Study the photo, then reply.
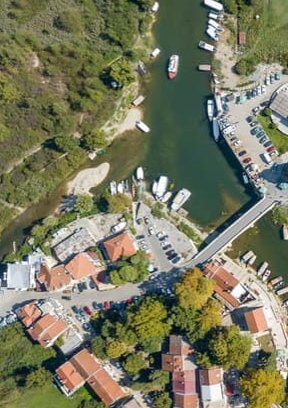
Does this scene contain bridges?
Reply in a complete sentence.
Yes, you can see a bridge in this photo.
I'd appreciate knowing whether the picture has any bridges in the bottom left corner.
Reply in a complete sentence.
No, I can find no bridge in the bottom left corner.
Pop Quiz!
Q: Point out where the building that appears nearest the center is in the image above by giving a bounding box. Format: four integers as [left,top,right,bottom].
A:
[105,231,140,261]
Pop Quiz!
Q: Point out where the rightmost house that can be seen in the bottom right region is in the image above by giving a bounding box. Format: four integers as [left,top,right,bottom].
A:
[246,306,269,333]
